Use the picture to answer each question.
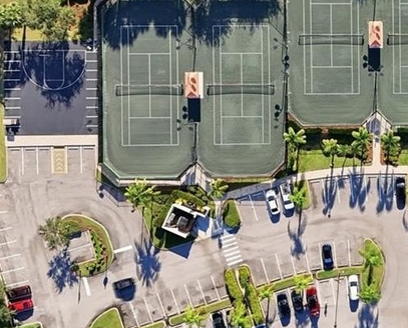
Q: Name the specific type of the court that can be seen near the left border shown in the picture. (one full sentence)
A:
From above, the court that can be seen near the left border can be identified as a basketball court.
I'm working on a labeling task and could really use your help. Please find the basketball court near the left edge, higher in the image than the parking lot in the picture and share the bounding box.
[4,41,94,135]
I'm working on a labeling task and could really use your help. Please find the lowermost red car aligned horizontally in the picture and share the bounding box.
[9,298,34,312]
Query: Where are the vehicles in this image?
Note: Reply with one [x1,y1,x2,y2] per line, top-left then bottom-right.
[291,286,304,312]
[322,244,333,269]
[112,276,136,289]
[266,190,279,215]
[9,298,34,312]
[276,289,289,317]
[213,312,226,328]
[7,285,33,298]
[395,177,406,202]
[347,275,358,299]
[306,286,319,315]
[279,181,295,209]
